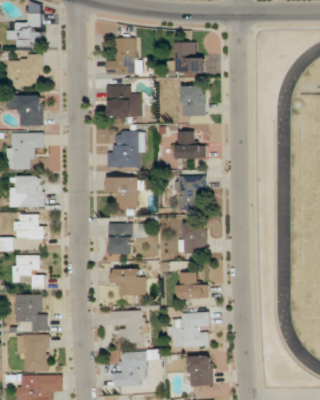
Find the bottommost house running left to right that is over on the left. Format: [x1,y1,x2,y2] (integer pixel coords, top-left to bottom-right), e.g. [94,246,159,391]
[5,374,62,400]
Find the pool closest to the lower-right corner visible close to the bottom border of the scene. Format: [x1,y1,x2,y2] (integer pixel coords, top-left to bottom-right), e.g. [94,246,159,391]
[172,374,184,396]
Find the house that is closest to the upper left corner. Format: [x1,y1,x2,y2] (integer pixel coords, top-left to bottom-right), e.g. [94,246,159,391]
[6,0,41,48]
